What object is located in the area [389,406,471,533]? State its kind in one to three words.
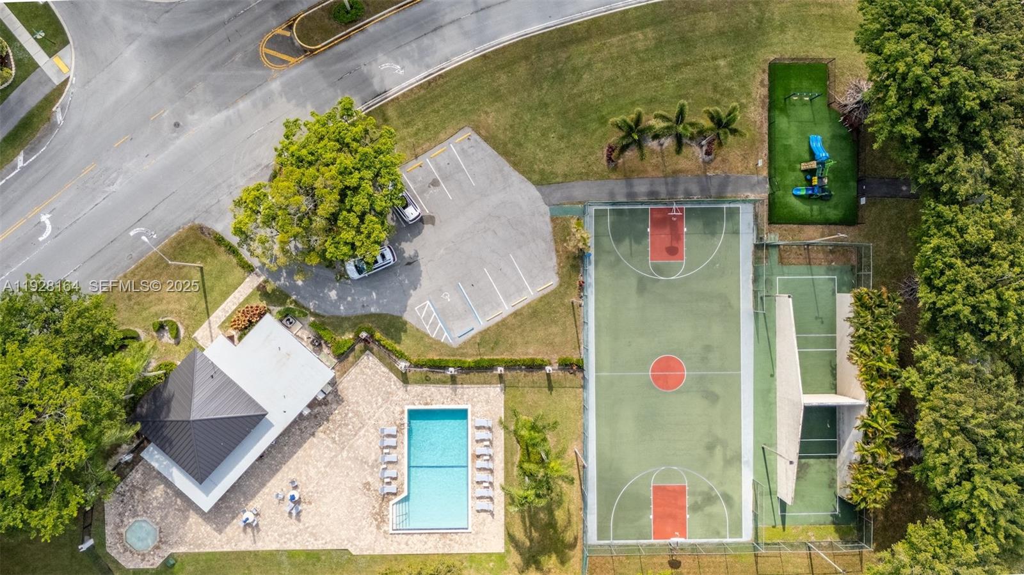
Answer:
swimming pool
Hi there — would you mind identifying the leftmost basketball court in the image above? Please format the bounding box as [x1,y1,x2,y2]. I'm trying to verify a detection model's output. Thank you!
[587,202,754,545]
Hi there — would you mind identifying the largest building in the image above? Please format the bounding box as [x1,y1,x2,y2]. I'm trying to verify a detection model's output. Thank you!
[130,313,335,511]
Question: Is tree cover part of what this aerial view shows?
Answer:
Yes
